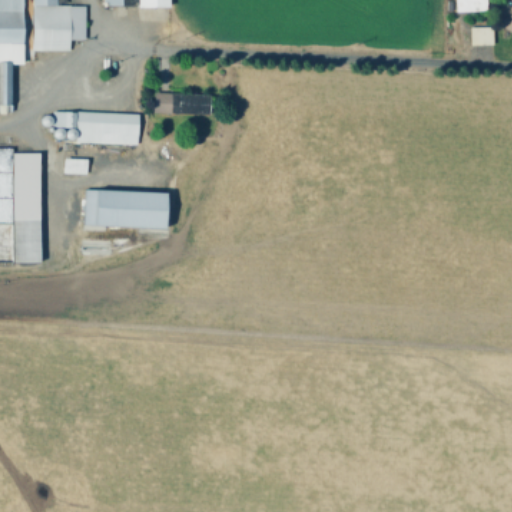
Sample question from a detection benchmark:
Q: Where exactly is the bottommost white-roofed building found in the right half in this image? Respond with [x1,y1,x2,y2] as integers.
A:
[472,27,495,46]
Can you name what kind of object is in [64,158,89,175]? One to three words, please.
shed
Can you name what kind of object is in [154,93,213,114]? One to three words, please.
house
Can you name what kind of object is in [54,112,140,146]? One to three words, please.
barn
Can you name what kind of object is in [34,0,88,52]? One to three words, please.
building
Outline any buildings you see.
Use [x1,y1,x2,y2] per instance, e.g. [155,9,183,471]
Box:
[0,148,14,262]
[84,191,170,232]
[34,0,88,52]
[0,0,26,64]
[64,158,89,175]
[140,0,172,8]
[472,27,495,46]
[154,93,213,114]
[457,0,490,13]
[14,153,42,262]
[106,0,138,6]
[54,112,140,146]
